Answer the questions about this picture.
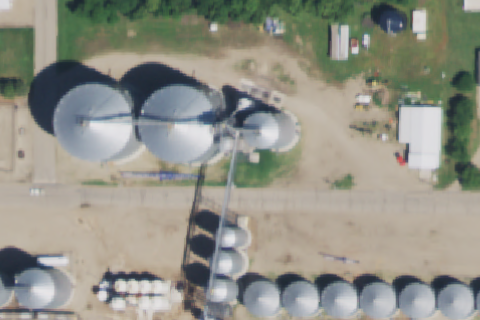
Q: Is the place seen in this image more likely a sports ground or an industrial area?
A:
industrial area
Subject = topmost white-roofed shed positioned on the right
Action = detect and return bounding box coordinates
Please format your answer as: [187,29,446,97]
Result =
[413,11,428,40]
